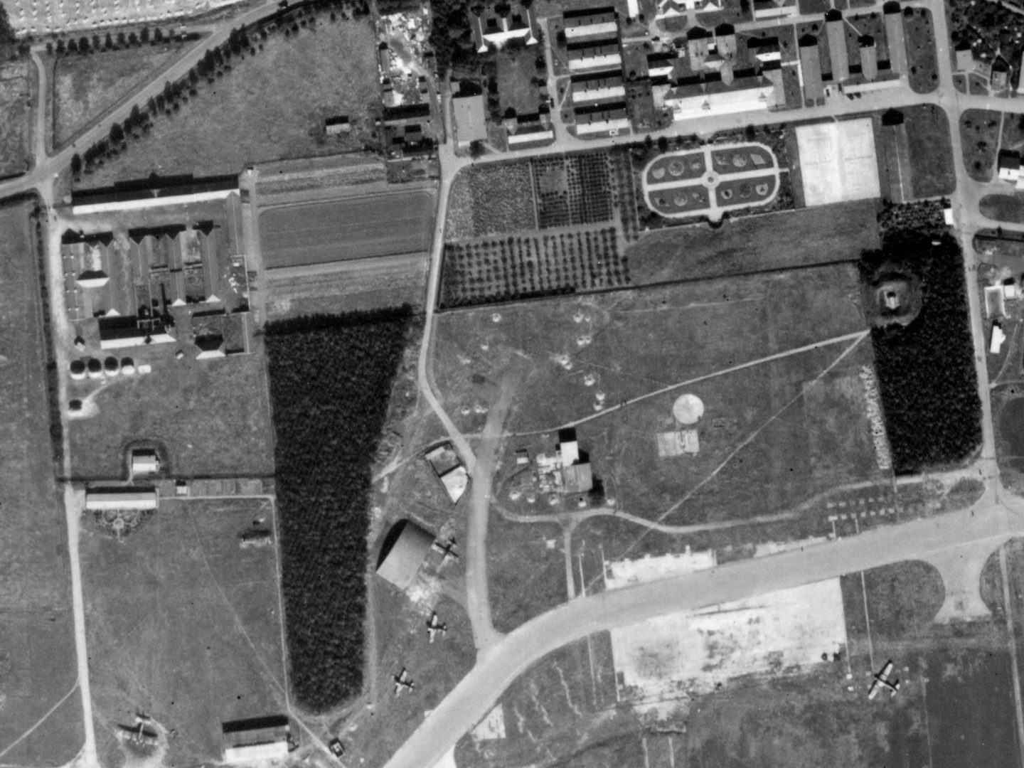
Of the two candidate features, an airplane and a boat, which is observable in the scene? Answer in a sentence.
Of the two, only an airplane appears.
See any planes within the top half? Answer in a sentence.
No, there's no plane to be seen within the top half.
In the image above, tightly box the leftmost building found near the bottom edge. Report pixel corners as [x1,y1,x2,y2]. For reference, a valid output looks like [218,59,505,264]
[222,725,291,763]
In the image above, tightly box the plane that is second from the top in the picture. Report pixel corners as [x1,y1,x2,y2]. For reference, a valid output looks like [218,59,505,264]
[427,612,449,640]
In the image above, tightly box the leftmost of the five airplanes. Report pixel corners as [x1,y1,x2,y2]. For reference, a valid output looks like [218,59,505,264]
[119,718,158,745]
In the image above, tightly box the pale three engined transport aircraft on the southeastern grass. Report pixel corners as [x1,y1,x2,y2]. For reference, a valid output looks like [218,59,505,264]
[869,664,901,699]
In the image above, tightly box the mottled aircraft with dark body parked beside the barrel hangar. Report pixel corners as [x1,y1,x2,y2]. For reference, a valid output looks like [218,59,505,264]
[435,538,459,561]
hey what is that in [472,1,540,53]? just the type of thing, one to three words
house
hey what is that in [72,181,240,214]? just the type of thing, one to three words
barn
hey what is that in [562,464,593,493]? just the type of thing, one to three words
building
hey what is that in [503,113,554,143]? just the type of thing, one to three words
house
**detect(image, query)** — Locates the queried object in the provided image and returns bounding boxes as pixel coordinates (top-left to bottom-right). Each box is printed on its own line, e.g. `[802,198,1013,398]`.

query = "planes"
[869,664,901,699]
[119,718,158,745]
[427,612,449,640]
[393,668,417,695]
[435,538,459,561]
